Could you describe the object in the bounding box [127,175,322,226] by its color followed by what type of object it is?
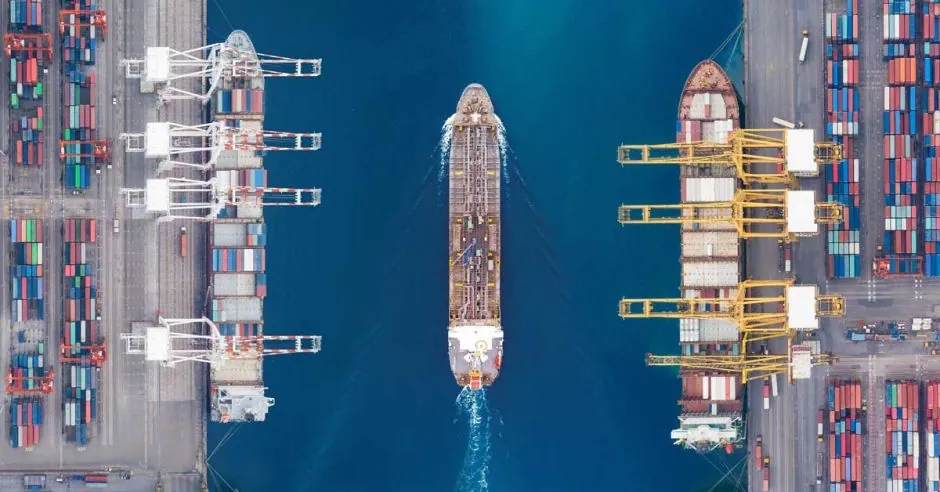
white container crane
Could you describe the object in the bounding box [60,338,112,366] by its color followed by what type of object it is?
red container crane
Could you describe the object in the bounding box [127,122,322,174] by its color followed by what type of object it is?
white container crane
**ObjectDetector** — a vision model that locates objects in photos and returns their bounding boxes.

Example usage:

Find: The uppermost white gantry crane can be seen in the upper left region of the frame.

[127,47,322,106]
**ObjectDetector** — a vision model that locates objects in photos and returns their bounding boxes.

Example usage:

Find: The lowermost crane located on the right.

[646,330,841,387]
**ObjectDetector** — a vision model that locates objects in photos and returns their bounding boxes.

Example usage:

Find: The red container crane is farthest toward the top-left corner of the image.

[4,31,59,64]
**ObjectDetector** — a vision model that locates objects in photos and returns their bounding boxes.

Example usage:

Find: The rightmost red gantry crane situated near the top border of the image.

[60,7,114,41]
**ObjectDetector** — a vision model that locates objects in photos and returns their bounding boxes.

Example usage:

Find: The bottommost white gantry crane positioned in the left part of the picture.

[127,311,322,363]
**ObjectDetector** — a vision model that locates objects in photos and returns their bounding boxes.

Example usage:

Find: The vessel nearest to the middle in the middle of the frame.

[448,82,503,390]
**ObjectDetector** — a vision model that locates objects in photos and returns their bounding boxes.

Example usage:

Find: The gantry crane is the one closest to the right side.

[867,255,923,278]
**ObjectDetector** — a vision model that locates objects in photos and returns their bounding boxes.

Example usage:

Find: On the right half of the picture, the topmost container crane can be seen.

[618,129,844,188]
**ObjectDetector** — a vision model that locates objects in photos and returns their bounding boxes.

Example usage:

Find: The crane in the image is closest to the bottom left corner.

[6,366,60,397]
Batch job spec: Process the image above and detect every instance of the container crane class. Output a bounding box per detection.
[60,7,114,41]
[127,311,322,363]
[646,330,841,387]
[59,136,114,163]
[60,338,112,366]
[127,175,322,226]
[127,122,322,174]
[127,47,322,106]
[618,185,844,246]
[867,255,923,278]
[618,129,844,188]
[6,366,60,397]
[618,274,844,334]
[4,31,59,64]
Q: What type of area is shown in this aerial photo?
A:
port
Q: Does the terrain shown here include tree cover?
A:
No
